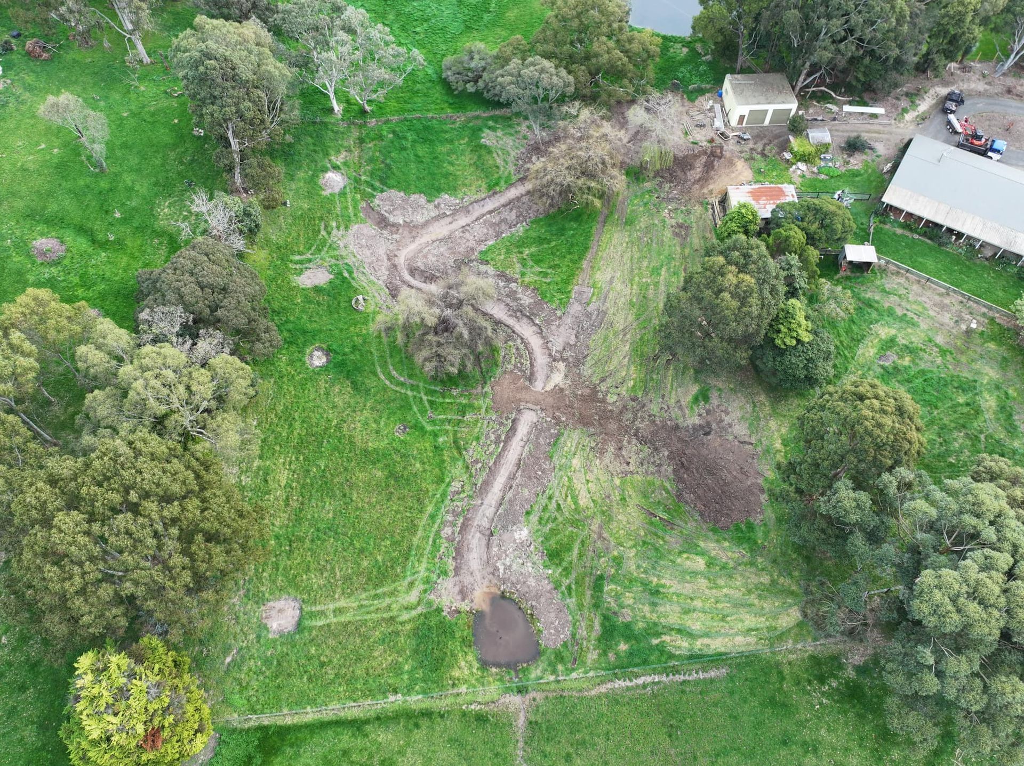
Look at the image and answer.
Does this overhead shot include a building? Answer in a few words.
Yes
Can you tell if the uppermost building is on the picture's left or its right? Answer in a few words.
right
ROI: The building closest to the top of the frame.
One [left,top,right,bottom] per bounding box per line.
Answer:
[723,72,799,129]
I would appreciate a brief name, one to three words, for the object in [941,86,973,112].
truck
